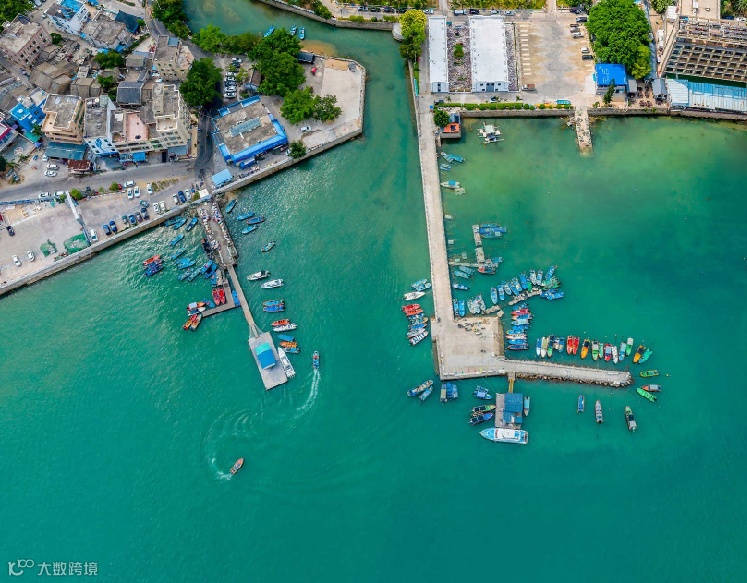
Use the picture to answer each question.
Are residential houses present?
Yes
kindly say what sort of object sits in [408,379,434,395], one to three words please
boat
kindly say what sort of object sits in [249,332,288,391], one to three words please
pier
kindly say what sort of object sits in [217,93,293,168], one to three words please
building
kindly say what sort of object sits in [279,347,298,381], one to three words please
vessel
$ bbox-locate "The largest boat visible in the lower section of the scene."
[479,428,528,446]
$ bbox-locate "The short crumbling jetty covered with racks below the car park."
[575,112,593,157]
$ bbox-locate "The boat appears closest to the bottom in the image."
[229,458,244,474]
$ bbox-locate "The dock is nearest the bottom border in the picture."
[494,393,523,430]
